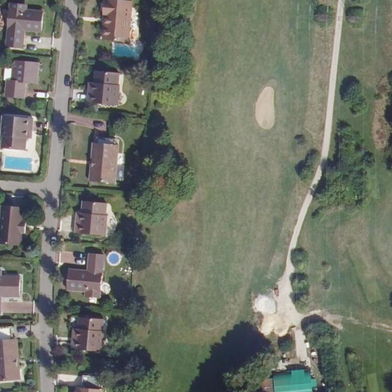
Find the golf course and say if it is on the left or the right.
right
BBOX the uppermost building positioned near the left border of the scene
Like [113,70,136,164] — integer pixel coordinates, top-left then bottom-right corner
[6,2,44,50]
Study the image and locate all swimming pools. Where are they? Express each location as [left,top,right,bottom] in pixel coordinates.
[107,252,124,266]
[4,156,33,172]
[113,43,142,60]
